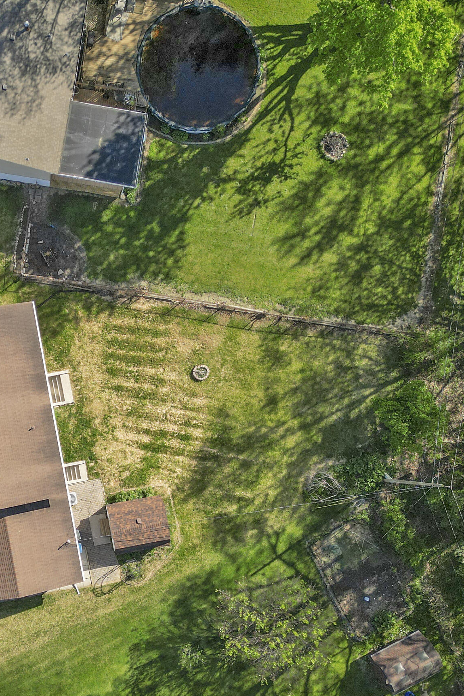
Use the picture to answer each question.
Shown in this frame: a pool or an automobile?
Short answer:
pool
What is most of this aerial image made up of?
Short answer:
grass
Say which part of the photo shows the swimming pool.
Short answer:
top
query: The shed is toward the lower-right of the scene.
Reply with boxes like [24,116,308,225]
[362,625,442,695]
